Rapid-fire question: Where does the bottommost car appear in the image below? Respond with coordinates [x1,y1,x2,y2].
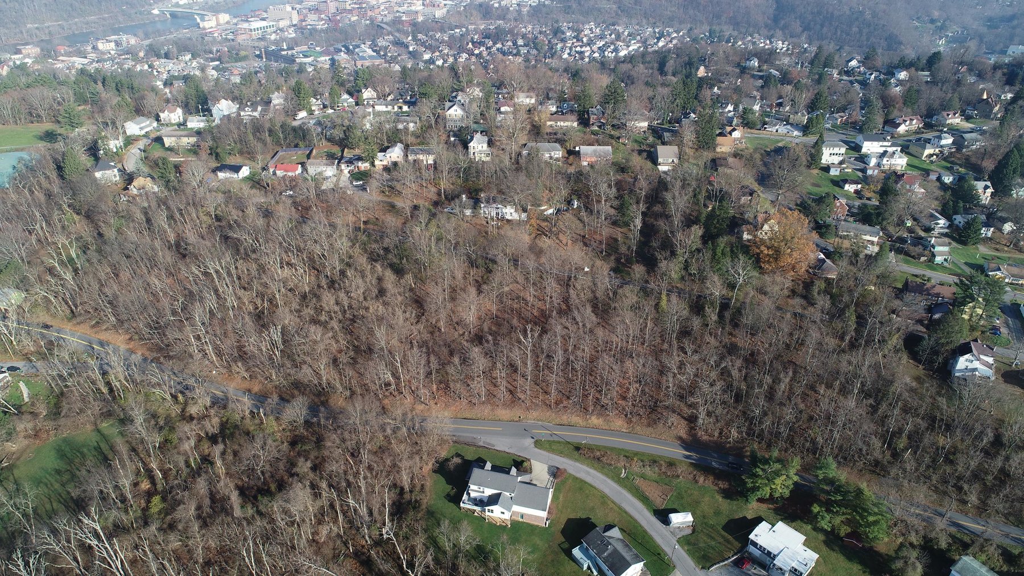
[737,552,752,572]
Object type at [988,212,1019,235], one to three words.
house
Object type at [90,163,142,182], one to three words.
house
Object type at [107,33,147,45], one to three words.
building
